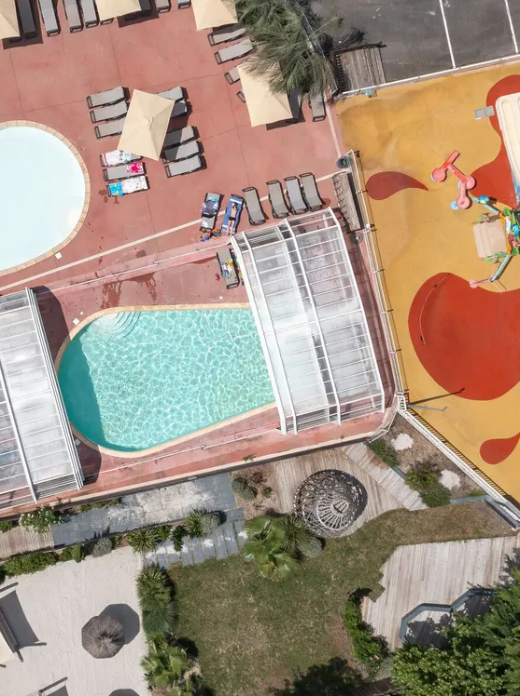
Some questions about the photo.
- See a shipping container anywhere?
No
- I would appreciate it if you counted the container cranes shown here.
none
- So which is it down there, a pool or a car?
pool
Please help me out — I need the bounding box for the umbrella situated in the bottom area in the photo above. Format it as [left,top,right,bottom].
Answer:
[82,615,127,659]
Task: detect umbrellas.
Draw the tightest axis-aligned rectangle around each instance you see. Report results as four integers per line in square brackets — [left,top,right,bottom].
[237,57,292,128]
[98,0,145,22]
[0,0,21,39]
[191,0,238,31]
[82,615,127,659]
[117,88,176,161]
